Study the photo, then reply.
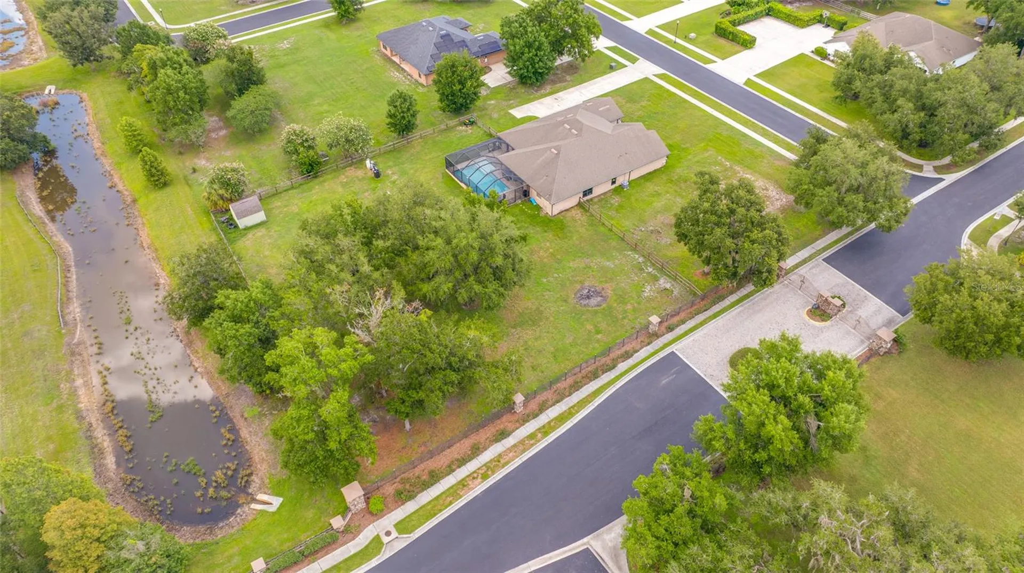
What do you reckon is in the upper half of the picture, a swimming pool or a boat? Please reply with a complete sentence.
Visible in the upper half of the picture is a swimming pool.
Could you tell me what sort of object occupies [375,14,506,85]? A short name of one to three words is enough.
house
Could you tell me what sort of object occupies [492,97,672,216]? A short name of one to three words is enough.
house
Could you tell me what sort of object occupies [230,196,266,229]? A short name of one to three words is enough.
shed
